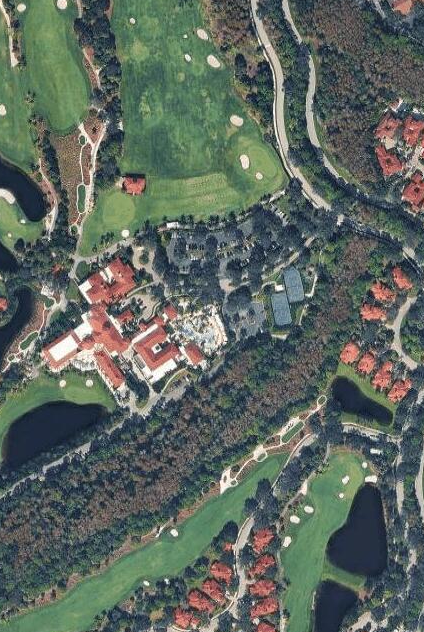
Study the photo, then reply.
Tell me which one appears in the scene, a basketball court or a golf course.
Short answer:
golf course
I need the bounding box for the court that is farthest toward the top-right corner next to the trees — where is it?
[284,267,304,303]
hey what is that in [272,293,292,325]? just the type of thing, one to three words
tennis court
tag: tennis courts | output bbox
[284,267,304,303]
[272,293,292,325]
